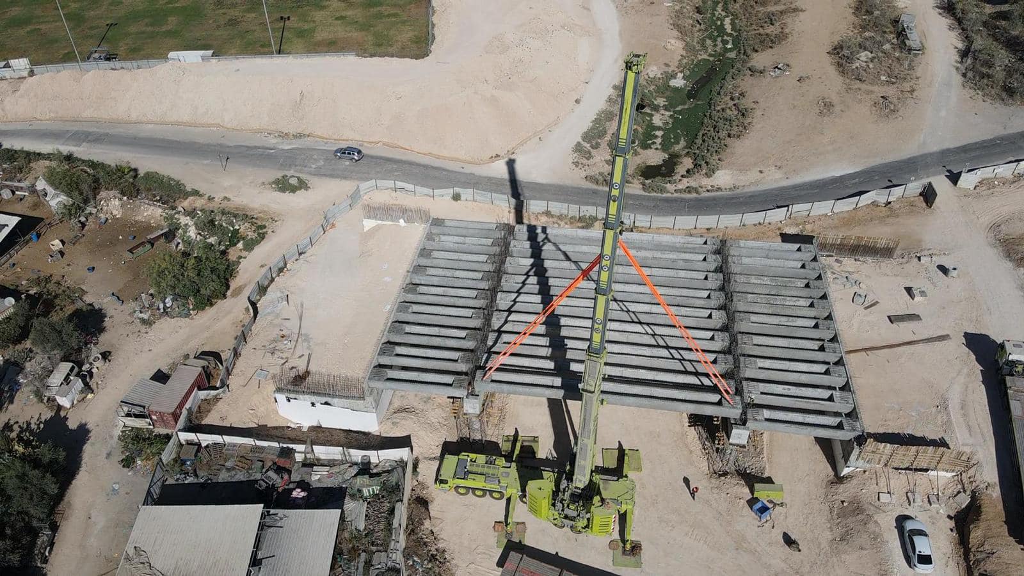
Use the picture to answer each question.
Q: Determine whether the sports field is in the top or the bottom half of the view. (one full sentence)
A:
The sports field sits in the top half of the picture.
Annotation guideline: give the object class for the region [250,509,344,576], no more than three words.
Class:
shed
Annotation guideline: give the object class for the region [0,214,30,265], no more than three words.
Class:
shed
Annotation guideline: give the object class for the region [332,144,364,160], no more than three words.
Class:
car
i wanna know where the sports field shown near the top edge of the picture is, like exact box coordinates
[0,0,428,70]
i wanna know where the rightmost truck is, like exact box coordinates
[995,339,1024,499]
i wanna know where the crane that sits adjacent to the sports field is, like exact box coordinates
[428,49,651,556]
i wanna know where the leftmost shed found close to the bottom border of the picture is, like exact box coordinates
[109,504,263,576]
